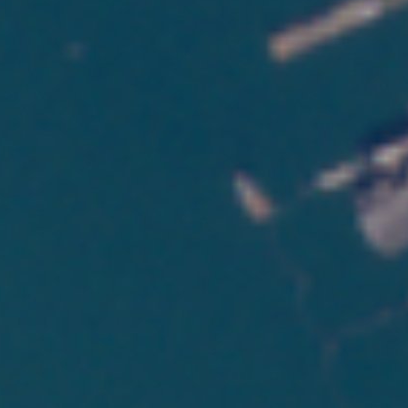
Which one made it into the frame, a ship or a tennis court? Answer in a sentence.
The one in the frame is a ship.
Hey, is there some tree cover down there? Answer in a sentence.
No, there is no tree cover in the image.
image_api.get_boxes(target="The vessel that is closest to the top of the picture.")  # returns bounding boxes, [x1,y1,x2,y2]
[313,167,349,191]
